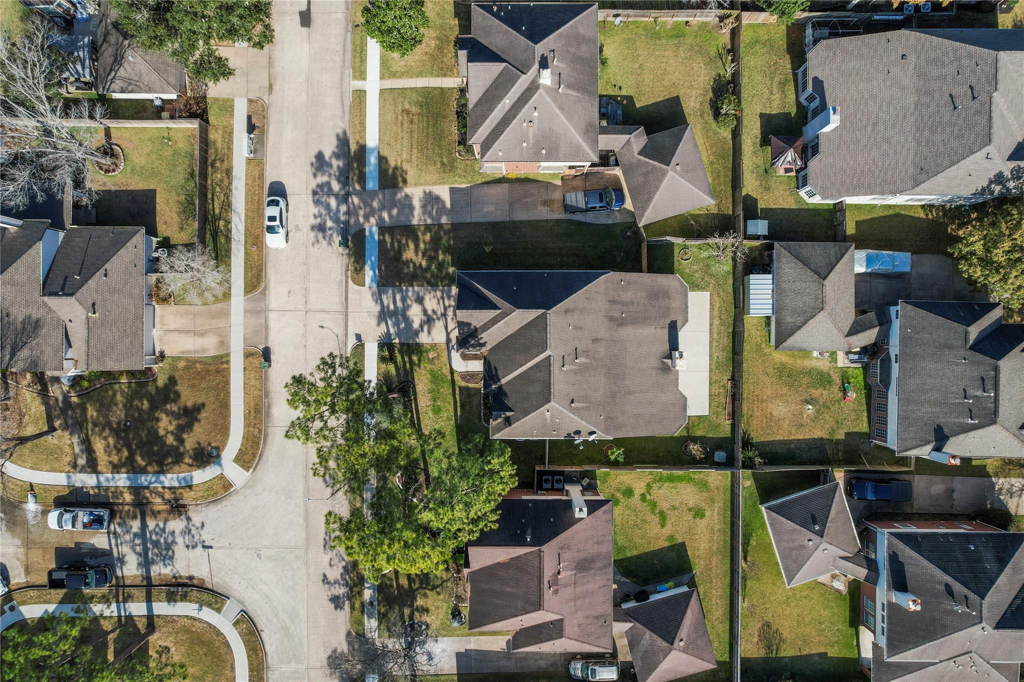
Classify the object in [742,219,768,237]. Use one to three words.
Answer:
shed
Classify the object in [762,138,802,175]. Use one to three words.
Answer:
gazebo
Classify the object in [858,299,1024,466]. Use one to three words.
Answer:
house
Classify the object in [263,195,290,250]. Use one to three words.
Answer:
car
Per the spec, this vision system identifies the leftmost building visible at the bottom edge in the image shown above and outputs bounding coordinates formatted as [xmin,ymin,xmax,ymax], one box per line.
[465,477,614,653]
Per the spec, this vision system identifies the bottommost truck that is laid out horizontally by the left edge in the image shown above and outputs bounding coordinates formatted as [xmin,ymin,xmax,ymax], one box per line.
[46,563,116,592]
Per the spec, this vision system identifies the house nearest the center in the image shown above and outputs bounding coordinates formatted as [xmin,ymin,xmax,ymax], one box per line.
[455,269,690,447]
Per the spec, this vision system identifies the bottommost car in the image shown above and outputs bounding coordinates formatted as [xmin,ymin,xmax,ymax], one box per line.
[567,653,621,681]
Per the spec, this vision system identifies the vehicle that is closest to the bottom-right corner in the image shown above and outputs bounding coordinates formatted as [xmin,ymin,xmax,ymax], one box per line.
[843,477,912,503]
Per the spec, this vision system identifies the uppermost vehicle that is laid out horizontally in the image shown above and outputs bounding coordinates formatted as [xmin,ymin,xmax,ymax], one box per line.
[560,186,625,214]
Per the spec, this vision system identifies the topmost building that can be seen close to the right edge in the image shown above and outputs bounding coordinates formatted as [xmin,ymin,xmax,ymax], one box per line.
[795,28,1024,203]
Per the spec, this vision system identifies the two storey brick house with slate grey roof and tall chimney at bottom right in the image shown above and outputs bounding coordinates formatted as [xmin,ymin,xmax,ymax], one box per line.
[858,520,1024,682]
